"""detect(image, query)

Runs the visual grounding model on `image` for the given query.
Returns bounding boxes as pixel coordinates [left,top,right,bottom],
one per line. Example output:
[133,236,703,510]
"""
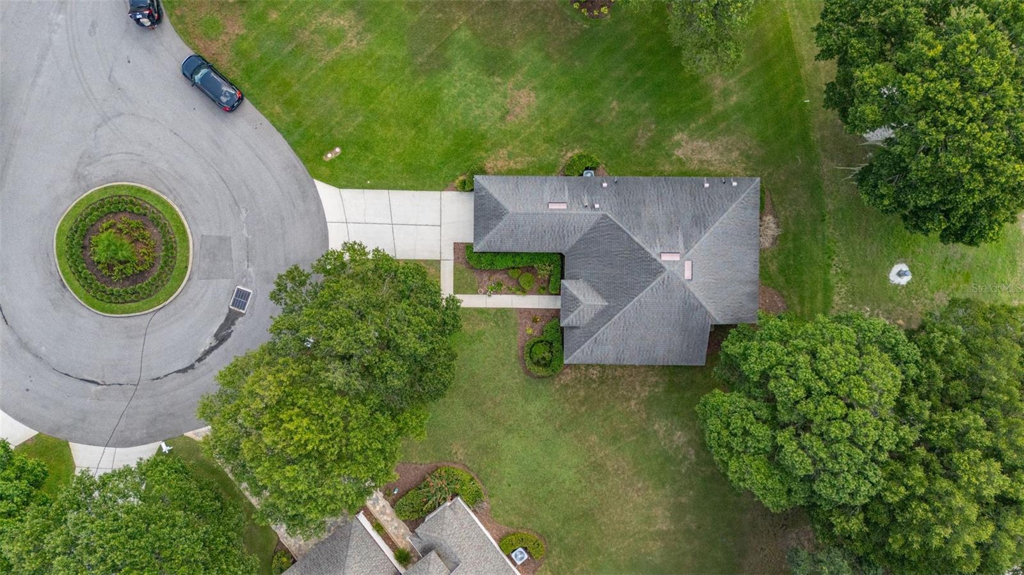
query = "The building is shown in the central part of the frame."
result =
[472,174,761,366]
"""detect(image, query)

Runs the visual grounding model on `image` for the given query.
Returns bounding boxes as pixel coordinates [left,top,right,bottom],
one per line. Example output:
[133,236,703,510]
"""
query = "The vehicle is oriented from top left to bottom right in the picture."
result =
[180,52,246,115]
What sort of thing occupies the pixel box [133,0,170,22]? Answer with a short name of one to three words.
car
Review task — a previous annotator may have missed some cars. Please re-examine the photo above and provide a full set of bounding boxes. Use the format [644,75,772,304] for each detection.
[180,52,246,115]
[133,0,170,22]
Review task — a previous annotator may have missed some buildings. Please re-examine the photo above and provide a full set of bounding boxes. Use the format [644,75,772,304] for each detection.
[280,495,527,575]
[472,174,761,366]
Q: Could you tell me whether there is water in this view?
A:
No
